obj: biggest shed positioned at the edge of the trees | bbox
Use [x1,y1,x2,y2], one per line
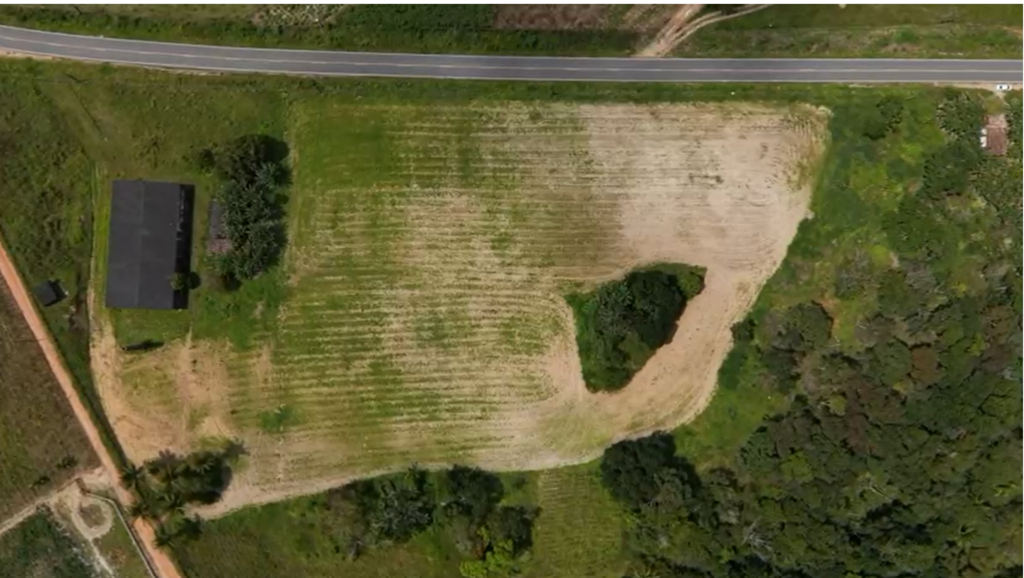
[106,180,196,310]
